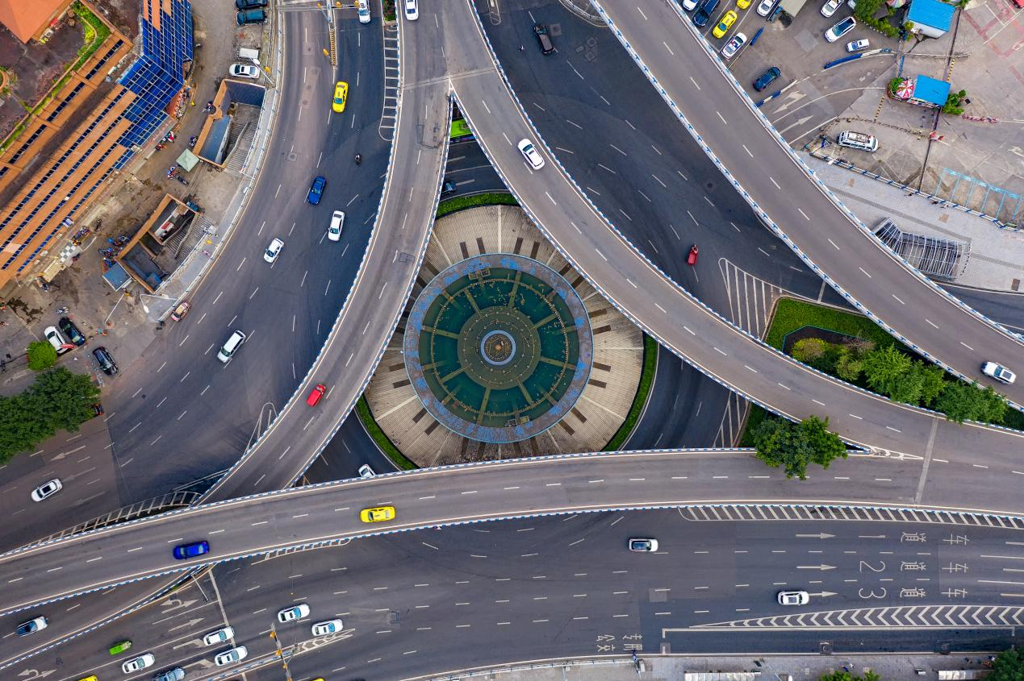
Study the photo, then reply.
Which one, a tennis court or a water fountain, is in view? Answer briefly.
water fountain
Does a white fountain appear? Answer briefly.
No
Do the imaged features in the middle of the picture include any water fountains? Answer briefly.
Yes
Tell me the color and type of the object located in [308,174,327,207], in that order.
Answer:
blue car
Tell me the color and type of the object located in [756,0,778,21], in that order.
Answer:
white car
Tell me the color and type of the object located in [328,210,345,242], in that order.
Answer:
white car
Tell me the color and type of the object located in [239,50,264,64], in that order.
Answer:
white vehicle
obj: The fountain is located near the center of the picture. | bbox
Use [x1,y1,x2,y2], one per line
[403,252,594,444]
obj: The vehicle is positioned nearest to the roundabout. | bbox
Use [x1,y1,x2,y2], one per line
[439,180,465,197]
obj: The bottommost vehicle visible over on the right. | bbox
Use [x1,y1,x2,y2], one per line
[776,589,808,604]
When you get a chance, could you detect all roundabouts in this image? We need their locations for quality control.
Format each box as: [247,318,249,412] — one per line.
[351,188,659,472]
